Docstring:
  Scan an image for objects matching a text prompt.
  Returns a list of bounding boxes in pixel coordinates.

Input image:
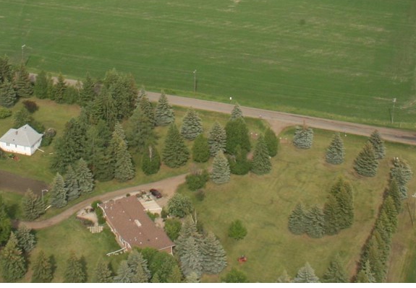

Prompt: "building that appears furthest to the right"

[95,193,171,260]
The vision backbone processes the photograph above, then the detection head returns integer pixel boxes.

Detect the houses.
[95,193,171,260]
[0,122,47,155]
